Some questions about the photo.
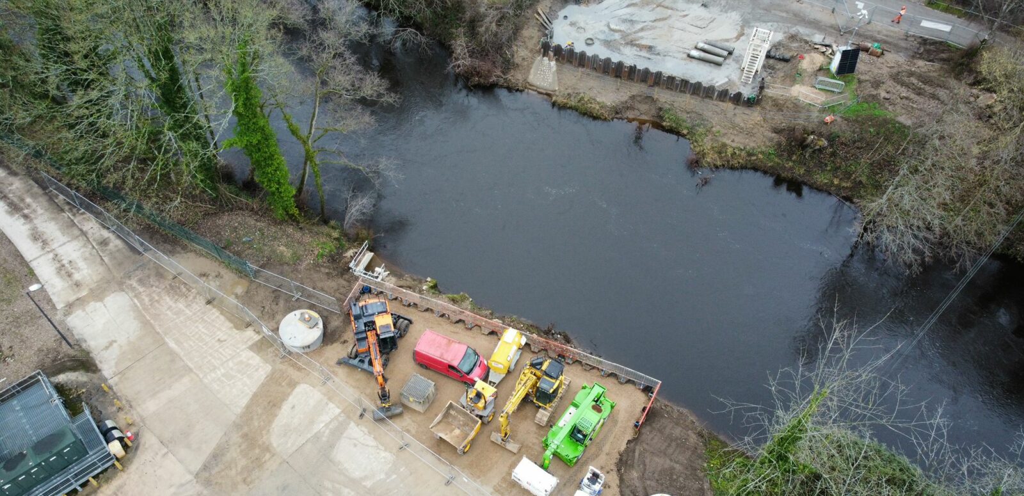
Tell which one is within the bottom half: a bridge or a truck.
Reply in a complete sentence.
There is a truck within the bottom half.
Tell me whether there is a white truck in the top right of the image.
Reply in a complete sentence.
No, I can find no white truck in the top right of the image.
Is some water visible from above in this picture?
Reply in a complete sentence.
Yes, water can be seen from above here.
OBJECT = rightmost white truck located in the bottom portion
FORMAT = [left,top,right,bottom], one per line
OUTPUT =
[563,467,605,496]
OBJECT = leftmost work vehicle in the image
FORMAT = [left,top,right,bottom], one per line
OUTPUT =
[337,296,426,422]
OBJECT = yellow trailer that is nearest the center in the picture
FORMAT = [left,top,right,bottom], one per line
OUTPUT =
[488,332,528,388]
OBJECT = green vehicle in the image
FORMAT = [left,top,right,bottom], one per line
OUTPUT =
[538,377,615,473]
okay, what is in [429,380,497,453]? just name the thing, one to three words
truck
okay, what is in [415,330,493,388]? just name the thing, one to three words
van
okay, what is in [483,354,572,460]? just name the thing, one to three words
work vehicle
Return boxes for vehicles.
[563,467,605,496]
[483,354,572,460]
[415,330,493,388]
[429,380,497,453]
[337,296,426,422]
[538,377,615,473]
